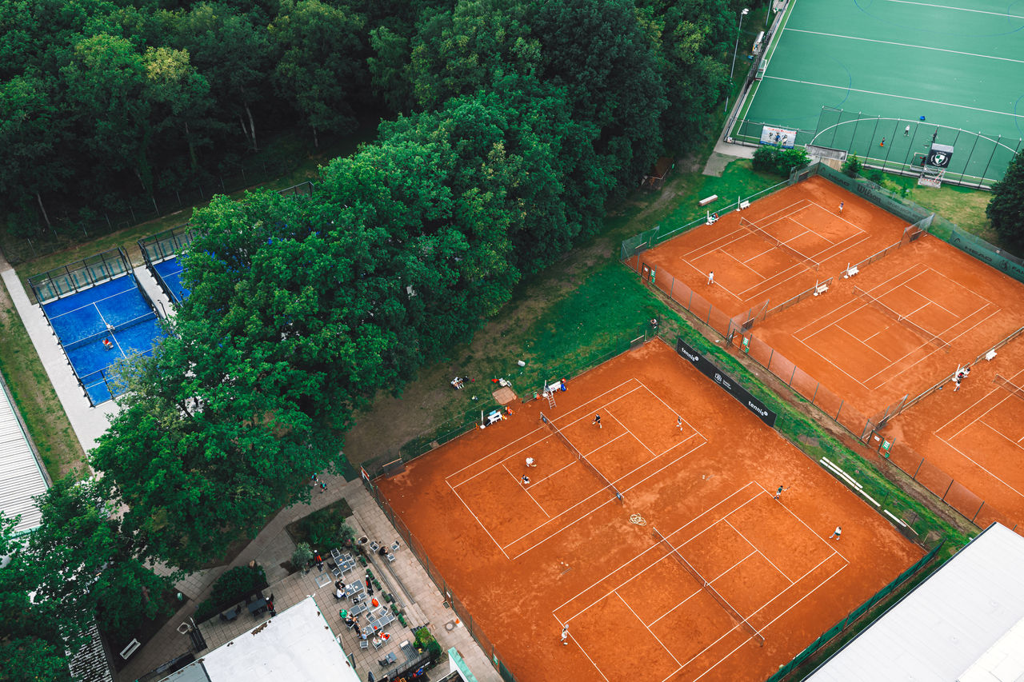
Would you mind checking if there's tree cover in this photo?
Yes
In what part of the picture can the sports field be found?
top right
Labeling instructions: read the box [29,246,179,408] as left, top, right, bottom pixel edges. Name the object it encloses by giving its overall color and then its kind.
blue sports court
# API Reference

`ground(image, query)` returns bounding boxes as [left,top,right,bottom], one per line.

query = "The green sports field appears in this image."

[728,0,1024,188]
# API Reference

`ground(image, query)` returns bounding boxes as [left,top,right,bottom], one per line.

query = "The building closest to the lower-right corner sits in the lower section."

[801,522,1024,682]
